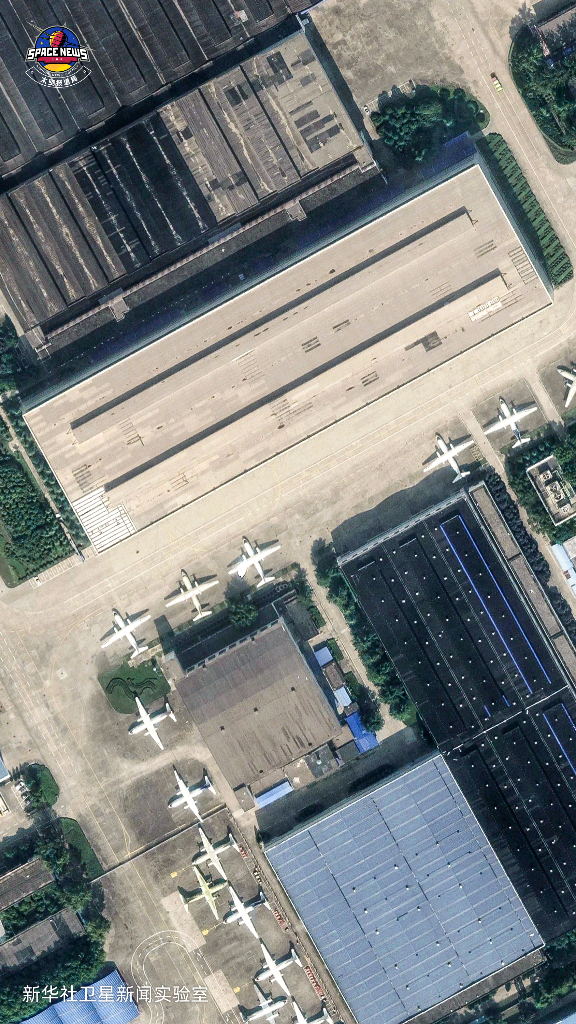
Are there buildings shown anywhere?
Yes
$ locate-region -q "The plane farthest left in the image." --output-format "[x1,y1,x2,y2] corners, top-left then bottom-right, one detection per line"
[100,610,150,654]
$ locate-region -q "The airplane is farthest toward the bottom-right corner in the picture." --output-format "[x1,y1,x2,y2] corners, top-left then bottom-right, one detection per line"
[289,1001,331,1024]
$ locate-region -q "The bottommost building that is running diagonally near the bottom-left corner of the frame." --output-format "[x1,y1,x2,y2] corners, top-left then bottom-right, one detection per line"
[0,904,83,977]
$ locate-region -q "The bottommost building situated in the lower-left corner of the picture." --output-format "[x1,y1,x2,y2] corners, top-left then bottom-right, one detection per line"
[14,966,150,1024]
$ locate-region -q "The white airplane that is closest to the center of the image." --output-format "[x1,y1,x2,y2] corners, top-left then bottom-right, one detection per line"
[226,538,279,584]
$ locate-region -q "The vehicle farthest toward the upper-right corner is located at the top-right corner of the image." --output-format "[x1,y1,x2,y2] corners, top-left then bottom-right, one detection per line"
[490,72,504,92]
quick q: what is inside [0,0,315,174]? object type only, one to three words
building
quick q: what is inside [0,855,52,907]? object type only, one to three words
house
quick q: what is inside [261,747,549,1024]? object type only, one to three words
hangar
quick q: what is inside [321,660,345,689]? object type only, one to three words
shed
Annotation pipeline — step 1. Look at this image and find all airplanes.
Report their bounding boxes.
[224,888,269,937]
[483,398,536,444]
[226,538,279,584]
[422,434,473,479]
[255,946,301,996]
[193,829,238,878]
[169,772,214,822]
[130,699,176,748]
[181,865,228,917]
[289,1001,331,1024]
[241,982,287,1024]
[558,366,576,403]
[100,610,150,654]
[164,571,218,617]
